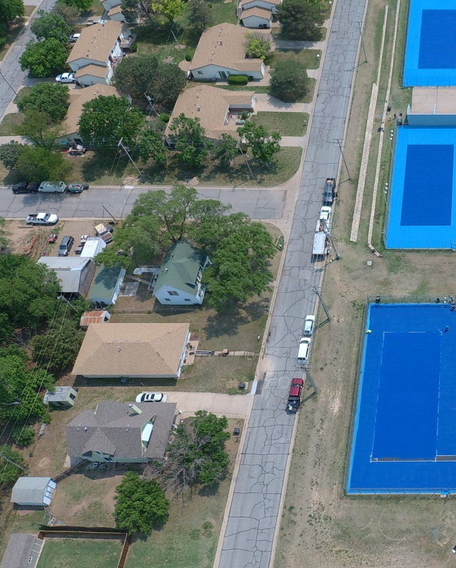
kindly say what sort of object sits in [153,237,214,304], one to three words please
house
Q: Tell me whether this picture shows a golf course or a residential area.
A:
residential area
